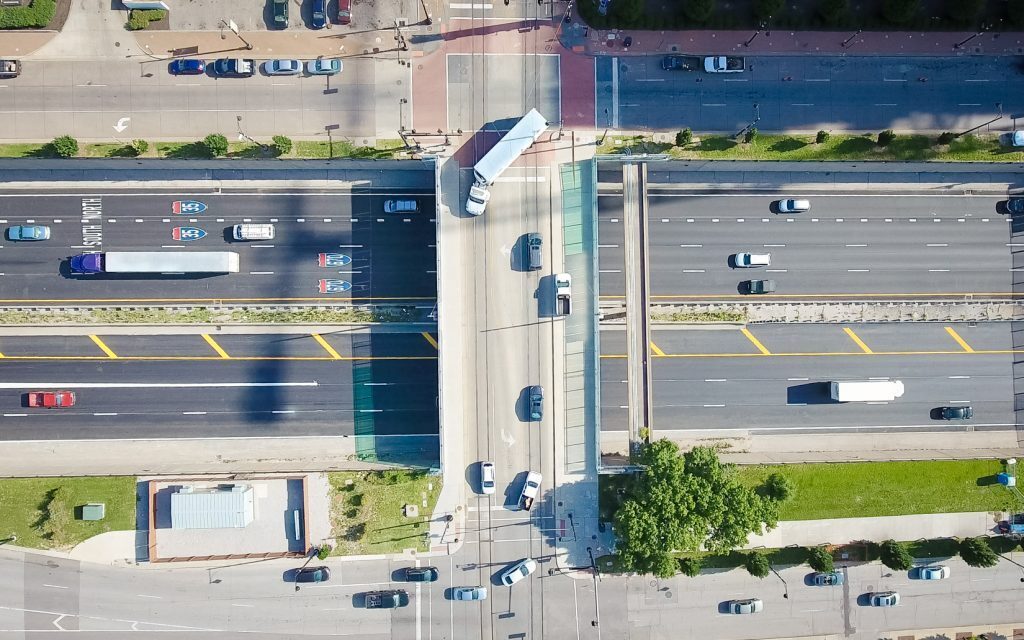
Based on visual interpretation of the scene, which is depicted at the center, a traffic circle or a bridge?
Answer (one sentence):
It is a bridge that can be seen at the center.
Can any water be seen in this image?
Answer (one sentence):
No, no water is visible.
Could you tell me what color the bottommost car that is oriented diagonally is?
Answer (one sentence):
The bottommost car that is oriented diagonally looks white in the image.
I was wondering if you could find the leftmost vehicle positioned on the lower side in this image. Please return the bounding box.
[27,390,77,408]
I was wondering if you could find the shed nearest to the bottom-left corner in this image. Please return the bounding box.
[172,487,252,529]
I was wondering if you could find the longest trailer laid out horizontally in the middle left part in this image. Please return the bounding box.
[104,251,242,273]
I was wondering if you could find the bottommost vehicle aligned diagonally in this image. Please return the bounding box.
[498,556,538,587]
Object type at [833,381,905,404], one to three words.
truck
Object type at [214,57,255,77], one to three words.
vehicle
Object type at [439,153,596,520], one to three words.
bridge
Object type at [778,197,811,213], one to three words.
car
